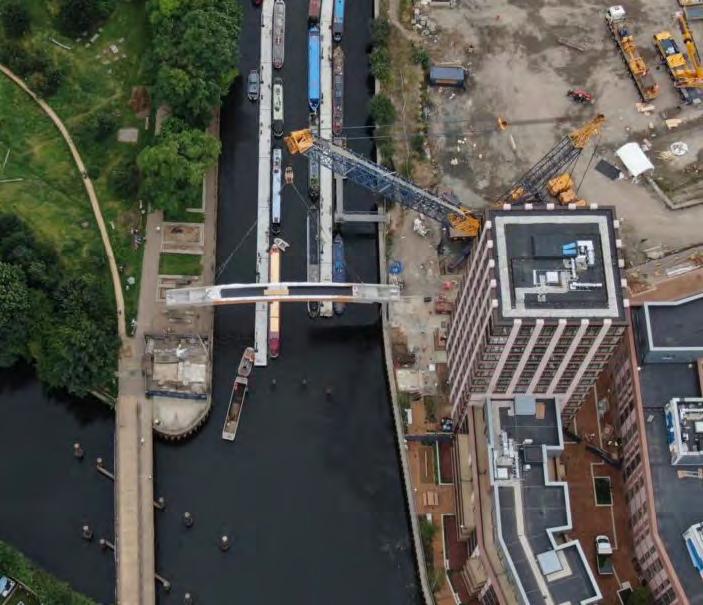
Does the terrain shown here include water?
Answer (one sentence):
Yes, water can be seen from above here.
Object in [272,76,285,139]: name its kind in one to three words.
boat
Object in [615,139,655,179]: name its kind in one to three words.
tent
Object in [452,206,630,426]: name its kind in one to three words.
building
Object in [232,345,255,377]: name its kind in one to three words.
boat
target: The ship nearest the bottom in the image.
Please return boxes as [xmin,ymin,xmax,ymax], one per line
[220,374,250,442]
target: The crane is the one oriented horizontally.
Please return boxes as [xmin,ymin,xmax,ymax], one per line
[277,113,608,265]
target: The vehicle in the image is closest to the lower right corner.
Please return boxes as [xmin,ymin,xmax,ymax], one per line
[595,535,612,573]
